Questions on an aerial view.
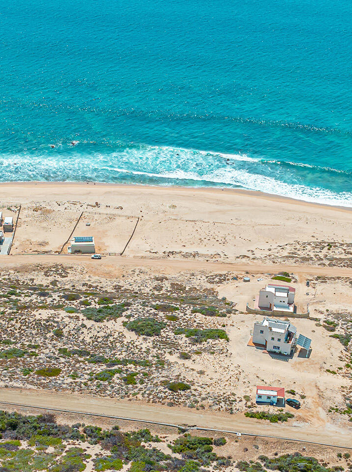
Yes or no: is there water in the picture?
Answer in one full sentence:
Yes, some water is visible.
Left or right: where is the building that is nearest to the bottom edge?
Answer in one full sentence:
The building that is nearest to the bottom edge appears in the right half of the scene.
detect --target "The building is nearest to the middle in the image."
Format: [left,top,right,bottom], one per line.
[67,235,96,254]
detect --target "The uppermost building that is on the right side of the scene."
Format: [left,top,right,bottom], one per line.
[254,280,297,313]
